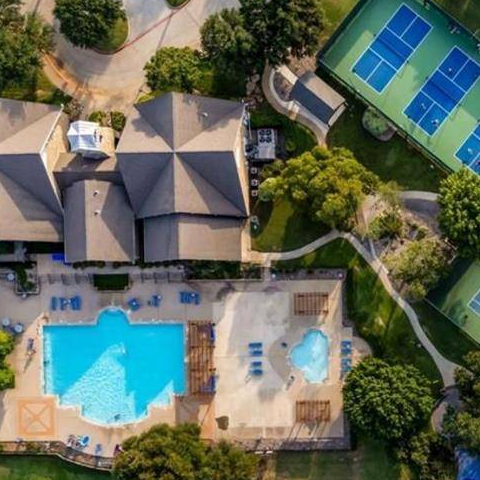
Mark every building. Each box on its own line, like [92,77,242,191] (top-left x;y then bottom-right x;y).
[0,92,252,263]
[292,72,348,128]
